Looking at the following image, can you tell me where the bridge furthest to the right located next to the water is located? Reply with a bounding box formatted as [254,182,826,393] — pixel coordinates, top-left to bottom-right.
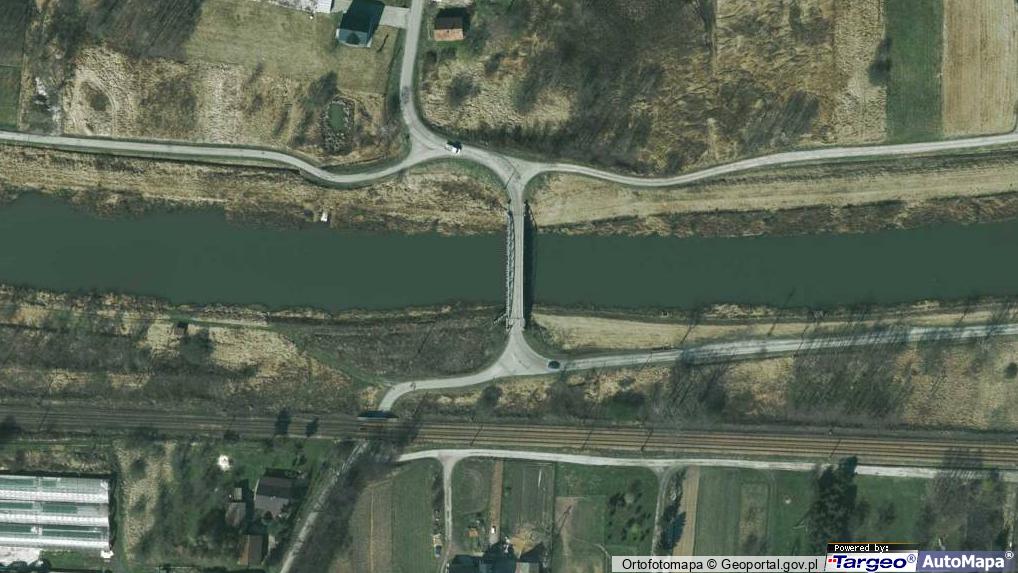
[492,203,534,329]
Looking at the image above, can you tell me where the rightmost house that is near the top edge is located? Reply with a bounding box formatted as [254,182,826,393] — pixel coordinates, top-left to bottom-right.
[434,16,464,41]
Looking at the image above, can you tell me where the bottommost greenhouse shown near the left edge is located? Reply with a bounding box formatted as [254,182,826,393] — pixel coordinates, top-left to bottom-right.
[0,474,109,550]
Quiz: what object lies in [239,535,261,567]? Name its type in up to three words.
barn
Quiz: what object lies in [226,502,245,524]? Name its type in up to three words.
shed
